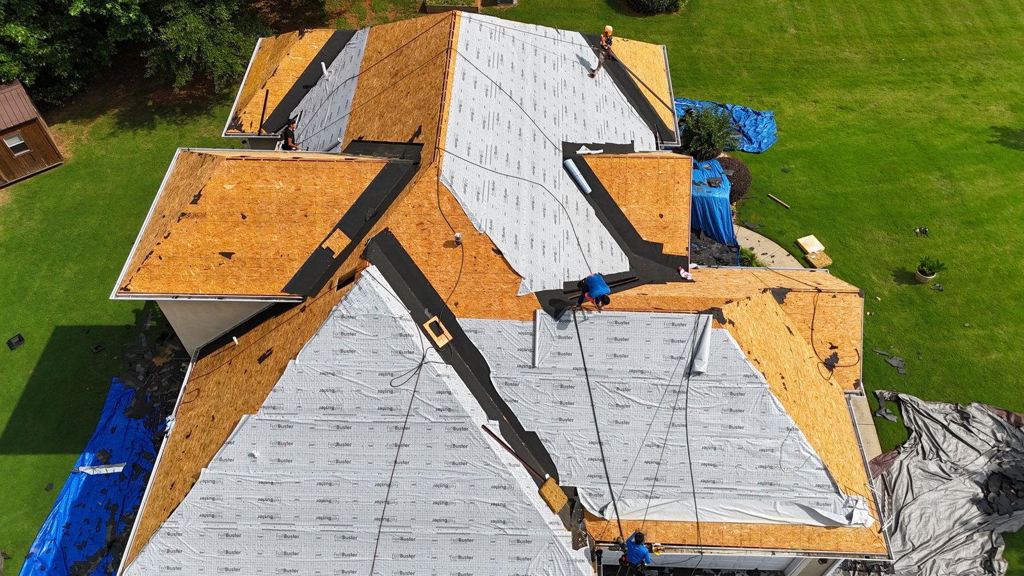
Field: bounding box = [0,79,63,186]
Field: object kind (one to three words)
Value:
shed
